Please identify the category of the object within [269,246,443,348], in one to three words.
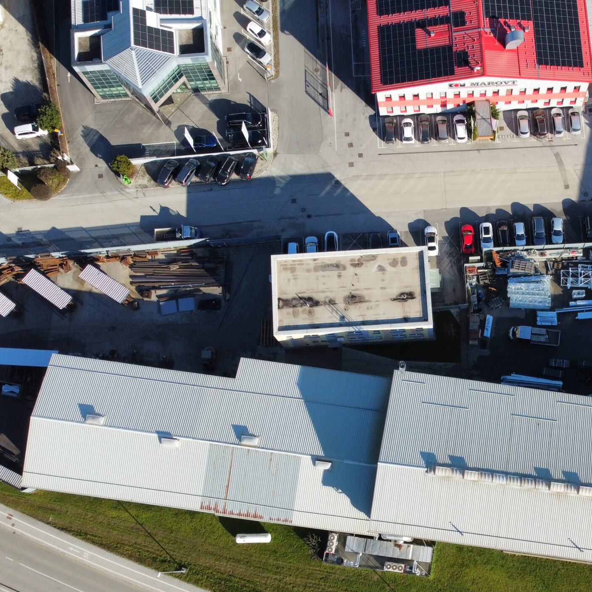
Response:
building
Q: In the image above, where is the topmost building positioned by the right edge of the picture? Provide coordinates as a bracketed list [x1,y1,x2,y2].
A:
[367,0,592,115]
